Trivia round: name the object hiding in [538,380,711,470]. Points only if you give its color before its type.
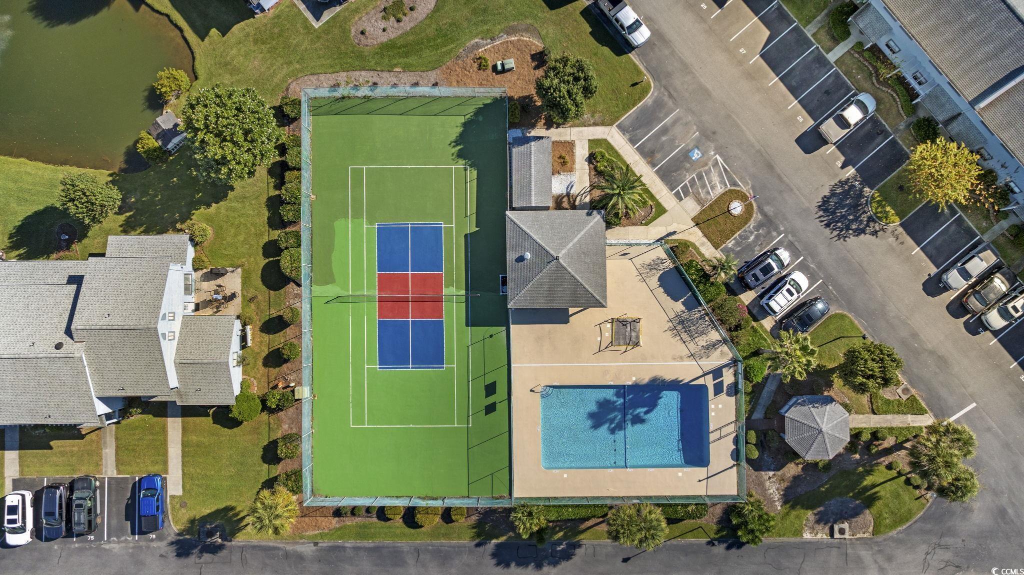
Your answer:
blue swimming pool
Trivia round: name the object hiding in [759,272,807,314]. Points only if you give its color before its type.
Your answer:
white car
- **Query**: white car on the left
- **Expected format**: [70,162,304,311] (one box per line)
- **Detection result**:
[3,490,35,543]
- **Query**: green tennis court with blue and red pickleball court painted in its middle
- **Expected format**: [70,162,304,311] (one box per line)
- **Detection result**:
[310,96,511,498]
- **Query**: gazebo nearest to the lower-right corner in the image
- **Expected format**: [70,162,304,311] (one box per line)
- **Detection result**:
[777,394,850,460]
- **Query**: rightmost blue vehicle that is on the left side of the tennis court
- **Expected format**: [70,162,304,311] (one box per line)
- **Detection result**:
[138,472,168,531]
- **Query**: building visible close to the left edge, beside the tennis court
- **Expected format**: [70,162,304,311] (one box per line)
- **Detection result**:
[0,235,242,425]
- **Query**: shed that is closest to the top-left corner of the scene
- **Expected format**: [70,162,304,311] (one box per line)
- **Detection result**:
[148,110,199,163]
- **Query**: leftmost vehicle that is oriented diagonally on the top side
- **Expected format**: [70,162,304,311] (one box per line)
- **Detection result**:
[590,0,647,53]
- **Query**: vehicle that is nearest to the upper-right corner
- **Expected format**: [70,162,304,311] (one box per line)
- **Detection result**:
[815,94,875,147]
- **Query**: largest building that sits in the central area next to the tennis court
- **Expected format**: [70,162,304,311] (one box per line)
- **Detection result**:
[506,209,607,308]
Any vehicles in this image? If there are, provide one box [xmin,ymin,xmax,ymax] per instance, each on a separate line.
[977,284,1024,330]
[780,294,830,336]
[737,247,787,290]
[42,481,72,536]
[759,272,807,314]
[937,242,997,292]
[138,472,168,531]
[960,269,1011,313]
[71,475,102,532]
[590,0,647,53]
[3,490,35,543]
[815,94,875,147]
